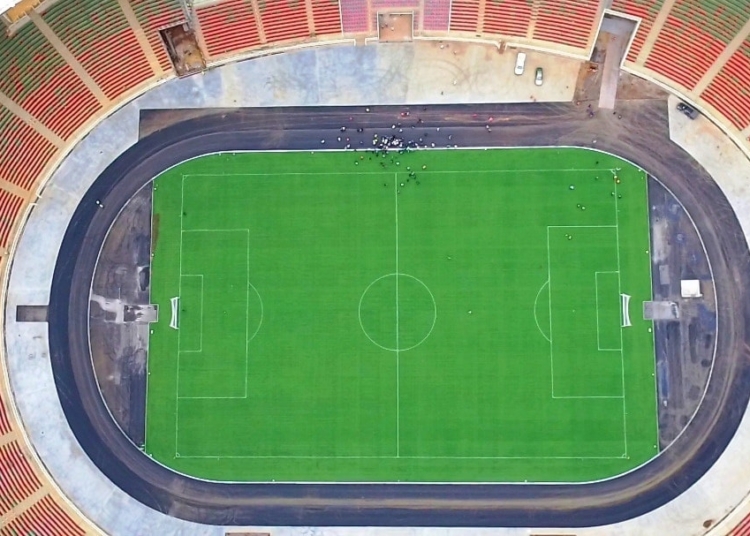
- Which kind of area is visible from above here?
sports ground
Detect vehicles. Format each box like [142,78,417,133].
[534,67,543,85]
[675,103,699,121]
[514,52,525,75]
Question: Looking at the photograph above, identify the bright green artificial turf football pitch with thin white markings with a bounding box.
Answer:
[145,148,659,482]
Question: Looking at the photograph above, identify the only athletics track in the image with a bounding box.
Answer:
[49,107,750,528]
